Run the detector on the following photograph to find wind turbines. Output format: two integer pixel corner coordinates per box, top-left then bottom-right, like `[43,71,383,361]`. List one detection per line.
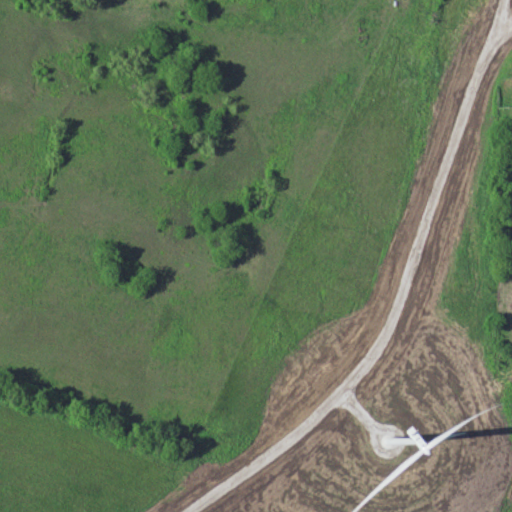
[352,406,502,512]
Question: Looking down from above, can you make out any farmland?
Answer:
Yes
